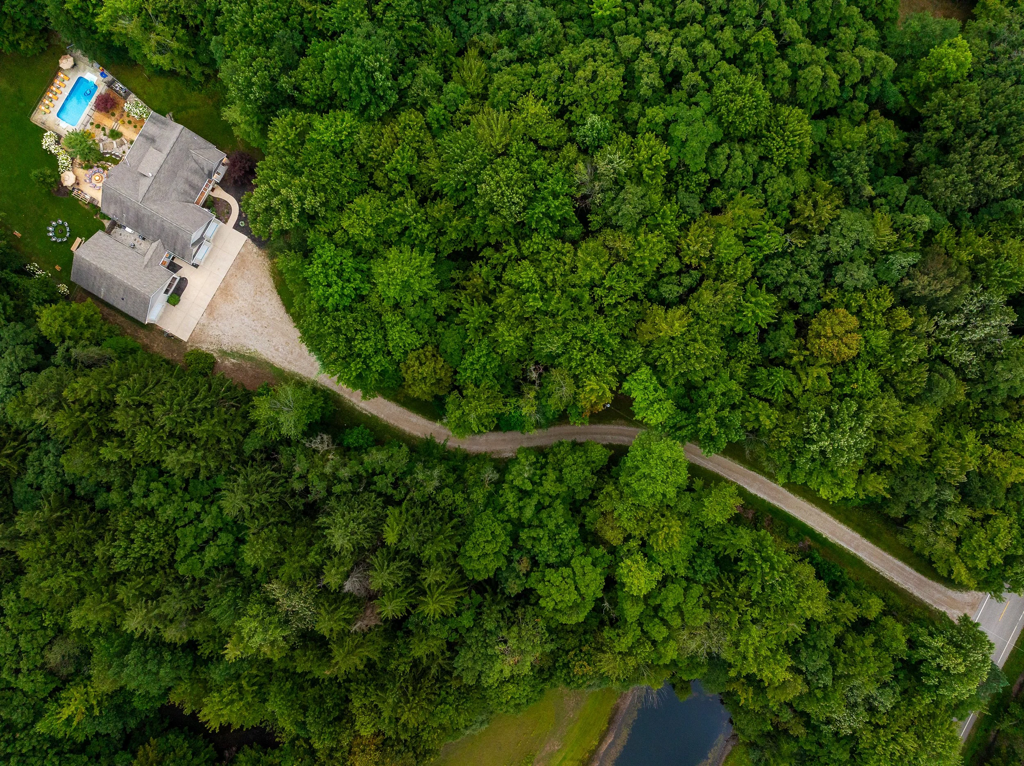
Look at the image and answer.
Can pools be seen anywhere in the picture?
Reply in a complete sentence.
Yes, there's a pool here.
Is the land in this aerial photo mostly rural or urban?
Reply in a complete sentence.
The area is rural.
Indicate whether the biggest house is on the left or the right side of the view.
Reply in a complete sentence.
The biggest house appears in the left half of the scene.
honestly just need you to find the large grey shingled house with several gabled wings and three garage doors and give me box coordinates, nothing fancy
[71,110,231,324]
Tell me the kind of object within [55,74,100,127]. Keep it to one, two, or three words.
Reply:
swimming pool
